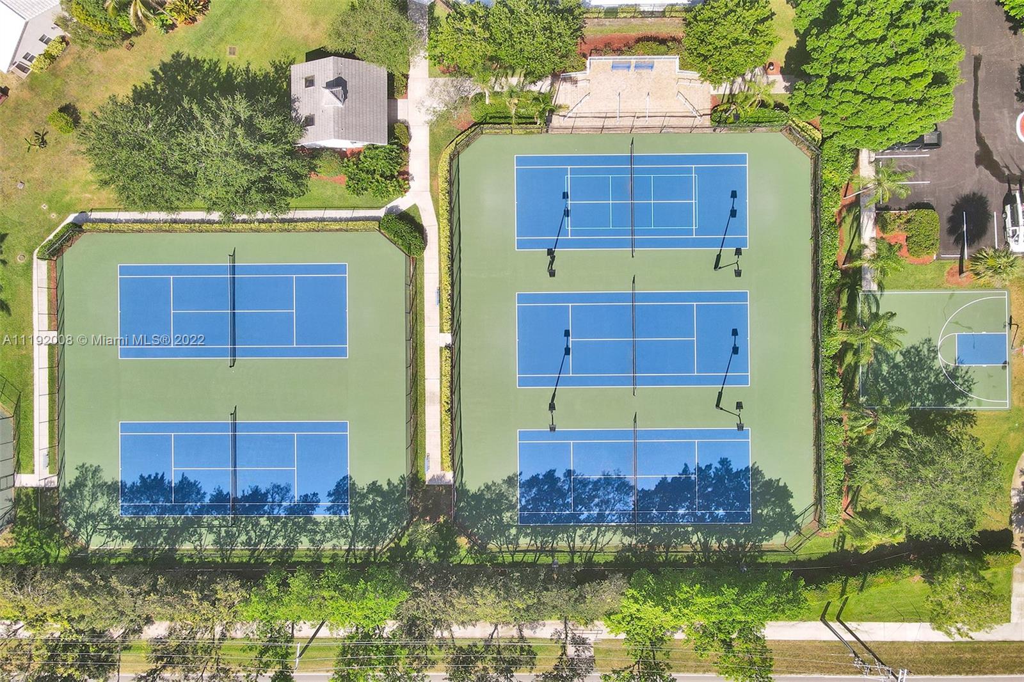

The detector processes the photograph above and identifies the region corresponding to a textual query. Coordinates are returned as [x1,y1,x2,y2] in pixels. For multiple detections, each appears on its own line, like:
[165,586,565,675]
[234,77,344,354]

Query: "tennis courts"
[517,291,750,388]
[516,153,748,250]
[518,428,751,525]
[120,421,349,517]
[119,263,348,359]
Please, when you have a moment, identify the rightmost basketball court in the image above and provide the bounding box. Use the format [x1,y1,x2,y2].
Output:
[856,287,1013,411]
